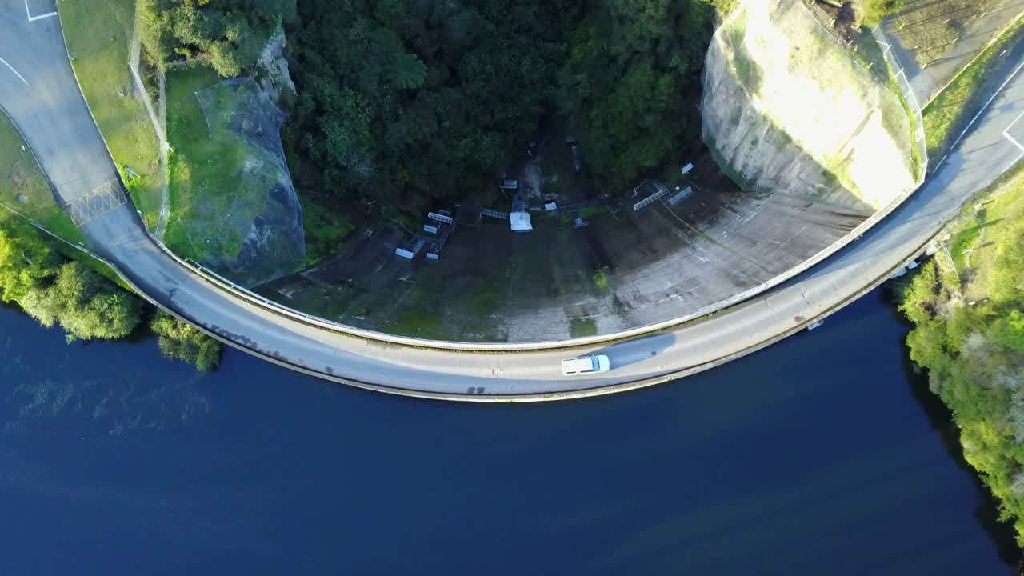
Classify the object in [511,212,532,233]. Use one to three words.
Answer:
shed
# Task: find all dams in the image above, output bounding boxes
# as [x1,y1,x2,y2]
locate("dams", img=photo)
[105,182,946,402]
